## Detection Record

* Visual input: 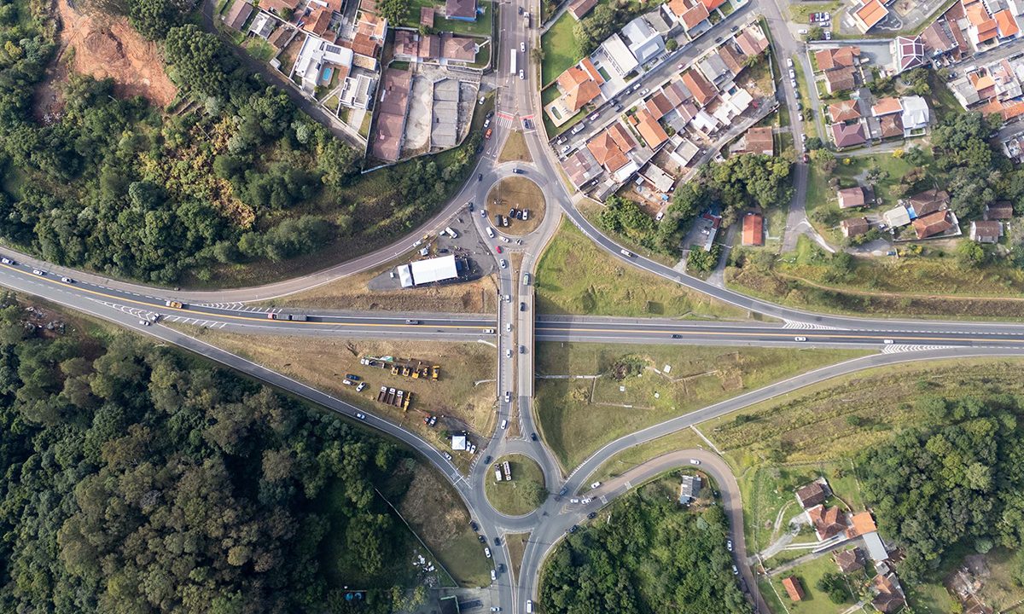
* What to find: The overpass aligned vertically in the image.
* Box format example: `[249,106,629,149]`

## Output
[497,286,535,398]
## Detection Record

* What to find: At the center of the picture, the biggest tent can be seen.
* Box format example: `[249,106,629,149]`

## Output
[410,256,458,283]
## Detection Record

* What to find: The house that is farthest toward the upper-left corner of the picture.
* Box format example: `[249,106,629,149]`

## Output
[223,0,255,32]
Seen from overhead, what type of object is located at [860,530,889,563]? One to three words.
barn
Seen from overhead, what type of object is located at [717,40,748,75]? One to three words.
house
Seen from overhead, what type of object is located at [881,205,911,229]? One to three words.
building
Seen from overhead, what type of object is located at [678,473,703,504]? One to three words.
shed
